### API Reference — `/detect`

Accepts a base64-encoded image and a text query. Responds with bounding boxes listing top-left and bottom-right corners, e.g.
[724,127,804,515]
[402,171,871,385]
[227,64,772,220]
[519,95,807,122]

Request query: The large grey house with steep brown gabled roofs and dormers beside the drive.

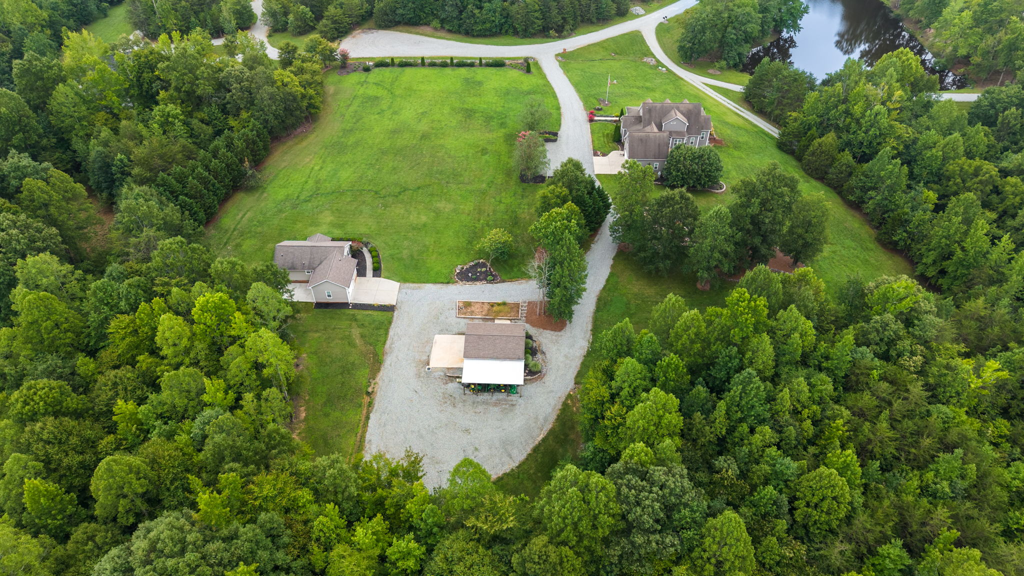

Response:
[619,95,723,173]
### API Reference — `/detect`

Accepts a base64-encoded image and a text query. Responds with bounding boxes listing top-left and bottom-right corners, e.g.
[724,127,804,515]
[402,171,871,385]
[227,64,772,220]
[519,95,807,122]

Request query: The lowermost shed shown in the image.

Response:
[462,323,527,396]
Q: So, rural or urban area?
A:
rural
